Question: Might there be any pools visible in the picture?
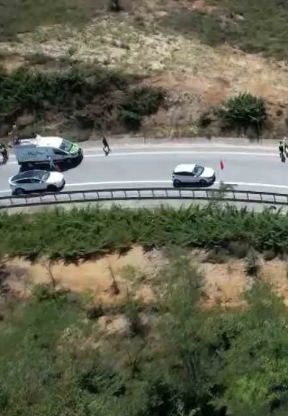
No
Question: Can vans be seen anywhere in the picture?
Yes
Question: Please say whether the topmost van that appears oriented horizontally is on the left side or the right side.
left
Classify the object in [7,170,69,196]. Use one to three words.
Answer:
car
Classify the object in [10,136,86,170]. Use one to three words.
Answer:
van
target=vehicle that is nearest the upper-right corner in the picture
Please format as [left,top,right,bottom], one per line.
[168,163,218,187]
